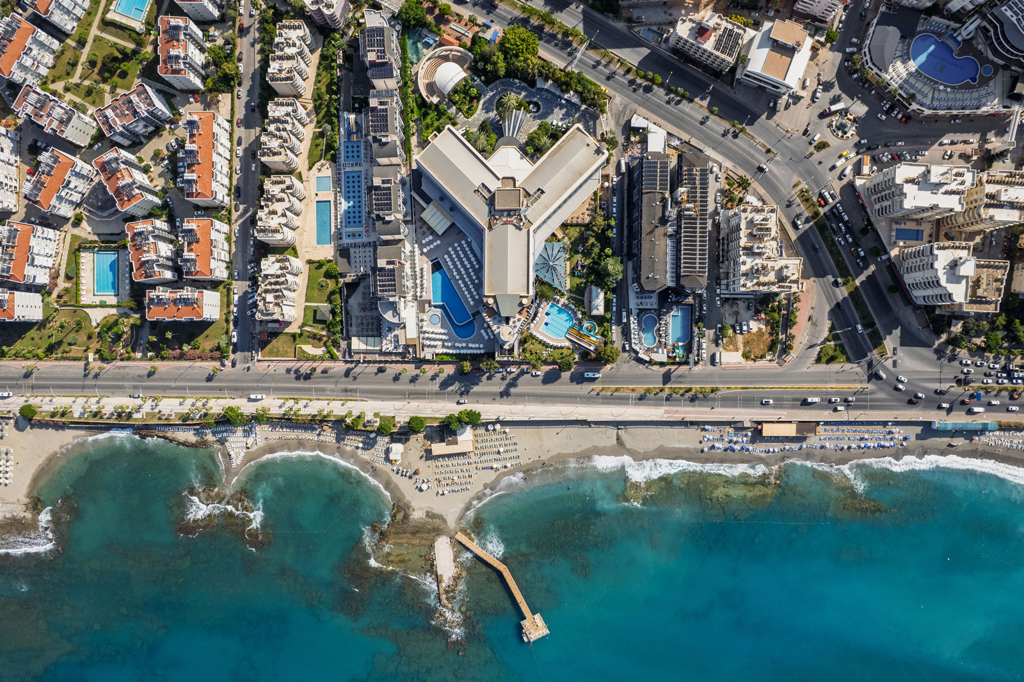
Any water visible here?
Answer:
Yes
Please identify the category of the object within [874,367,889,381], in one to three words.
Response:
vehicle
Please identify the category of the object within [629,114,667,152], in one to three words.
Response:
building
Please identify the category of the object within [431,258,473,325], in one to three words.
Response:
swimming pool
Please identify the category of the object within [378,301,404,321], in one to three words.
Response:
building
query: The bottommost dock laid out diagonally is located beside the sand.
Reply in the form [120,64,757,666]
[455,530,550,643]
